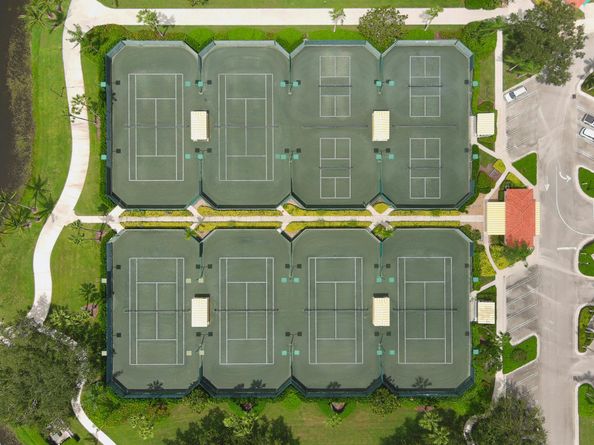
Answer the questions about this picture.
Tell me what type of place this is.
sports ground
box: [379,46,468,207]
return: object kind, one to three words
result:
sports court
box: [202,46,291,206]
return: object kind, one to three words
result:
tennis court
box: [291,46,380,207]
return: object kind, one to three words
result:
sports court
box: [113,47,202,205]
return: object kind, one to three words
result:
tennis court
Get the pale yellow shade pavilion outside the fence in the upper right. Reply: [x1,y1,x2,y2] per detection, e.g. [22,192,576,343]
[474,113,494,138]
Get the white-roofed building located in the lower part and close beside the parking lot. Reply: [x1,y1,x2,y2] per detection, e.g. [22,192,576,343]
[475,301,494,324]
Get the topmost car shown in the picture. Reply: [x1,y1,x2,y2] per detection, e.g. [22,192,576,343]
[501,85,528,103]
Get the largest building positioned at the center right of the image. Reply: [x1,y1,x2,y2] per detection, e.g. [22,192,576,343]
[483,188,540,249]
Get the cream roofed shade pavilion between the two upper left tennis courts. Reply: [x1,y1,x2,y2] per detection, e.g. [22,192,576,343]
[191,111,208,141]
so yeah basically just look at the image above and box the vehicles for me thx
[578,128,594,146]
[580,112,594,128]
[501,85,528,103]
